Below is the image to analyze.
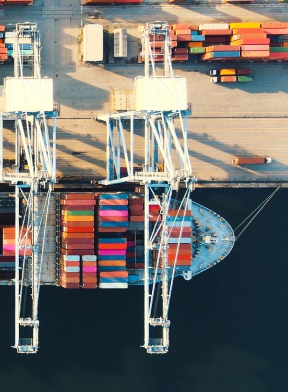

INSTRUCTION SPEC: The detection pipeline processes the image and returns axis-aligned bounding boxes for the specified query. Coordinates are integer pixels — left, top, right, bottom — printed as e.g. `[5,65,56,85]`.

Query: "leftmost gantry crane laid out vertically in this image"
[0,21,59,356]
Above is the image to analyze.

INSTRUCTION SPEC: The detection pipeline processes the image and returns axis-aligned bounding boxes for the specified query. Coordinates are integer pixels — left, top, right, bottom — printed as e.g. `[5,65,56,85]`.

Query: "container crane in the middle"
[90,21,200,356]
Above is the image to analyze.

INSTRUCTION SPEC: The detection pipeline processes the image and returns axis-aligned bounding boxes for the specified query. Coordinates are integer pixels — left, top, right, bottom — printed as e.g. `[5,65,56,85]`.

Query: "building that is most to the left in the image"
[81,25,103,63]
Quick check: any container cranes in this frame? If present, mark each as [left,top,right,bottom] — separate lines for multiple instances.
[0,21,59,356]
[90,21,200,356]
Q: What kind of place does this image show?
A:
port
